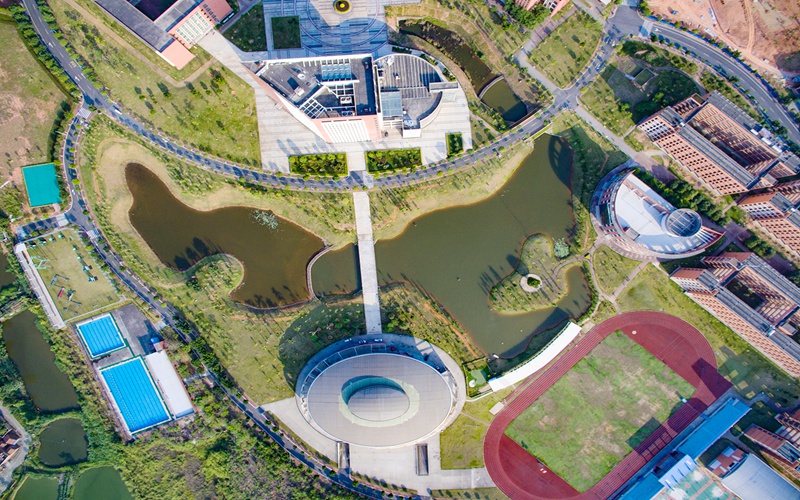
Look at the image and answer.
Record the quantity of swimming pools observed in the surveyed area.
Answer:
2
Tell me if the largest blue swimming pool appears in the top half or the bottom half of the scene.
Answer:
bottom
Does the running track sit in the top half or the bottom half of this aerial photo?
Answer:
bottom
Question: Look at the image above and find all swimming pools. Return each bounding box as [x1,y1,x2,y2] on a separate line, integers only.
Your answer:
[97,356,173,435]
[74,311,127,359]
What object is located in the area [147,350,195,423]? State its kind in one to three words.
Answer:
shed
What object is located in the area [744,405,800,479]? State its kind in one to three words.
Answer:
building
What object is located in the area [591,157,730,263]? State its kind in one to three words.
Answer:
building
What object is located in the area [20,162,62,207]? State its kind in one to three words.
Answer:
sports court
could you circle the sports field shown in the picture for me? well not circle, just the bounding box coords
[504,330,695,492]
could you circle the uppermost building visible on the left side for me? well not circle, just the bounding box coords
[91,0,245,69]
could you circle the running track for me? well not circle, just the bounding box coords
[482,309,732,500]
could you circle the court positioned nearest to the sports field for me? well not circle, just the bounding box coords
[650,459,741,500]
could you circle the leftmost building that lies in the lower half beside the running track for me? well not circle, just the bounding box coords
[295,333,466,450]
